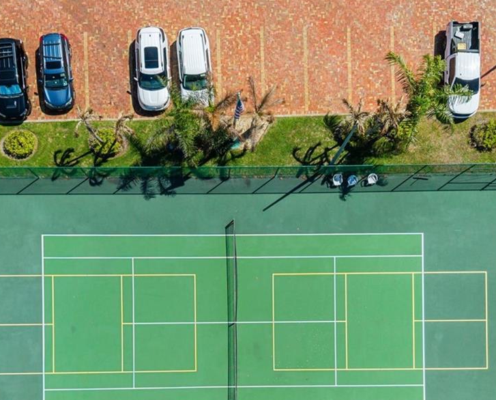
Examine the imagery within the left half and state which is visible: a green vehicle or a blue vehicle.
blue vehicle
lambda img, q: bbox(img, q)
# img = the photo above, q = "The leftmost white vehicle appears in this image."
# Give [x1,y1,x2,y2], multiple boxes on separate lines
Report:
[133,29,173,112]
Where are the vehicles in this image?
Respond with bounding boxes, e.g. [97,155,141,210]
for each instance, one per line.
[0,41,30,119]
[176,30,215,112]
[36,34,75,110]
[443,22,484,118]
[133,29,173,112]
